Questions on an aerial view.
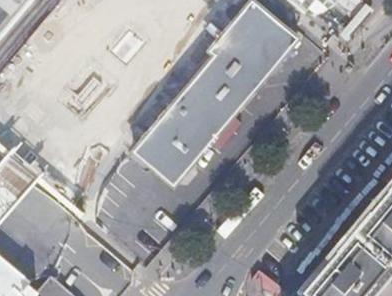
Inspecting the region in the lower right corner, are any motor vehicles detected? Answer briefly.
Yes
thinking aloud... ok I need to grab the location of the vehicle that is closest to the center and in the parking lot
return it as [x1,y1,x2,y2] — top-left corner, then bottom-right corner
[197,148,215,168]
